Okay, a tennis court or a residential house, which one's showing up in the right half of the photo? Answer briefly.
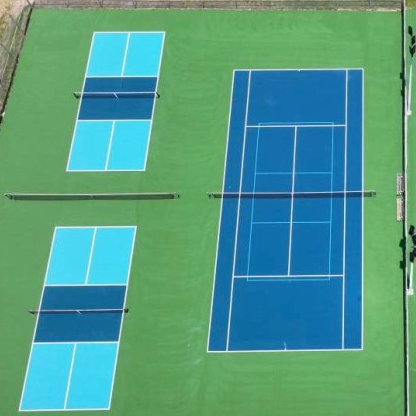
tennis court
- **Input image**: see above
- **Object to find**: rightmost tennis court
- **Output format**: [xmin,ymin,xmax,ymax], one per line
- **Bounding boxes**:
[207,69,363,352]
